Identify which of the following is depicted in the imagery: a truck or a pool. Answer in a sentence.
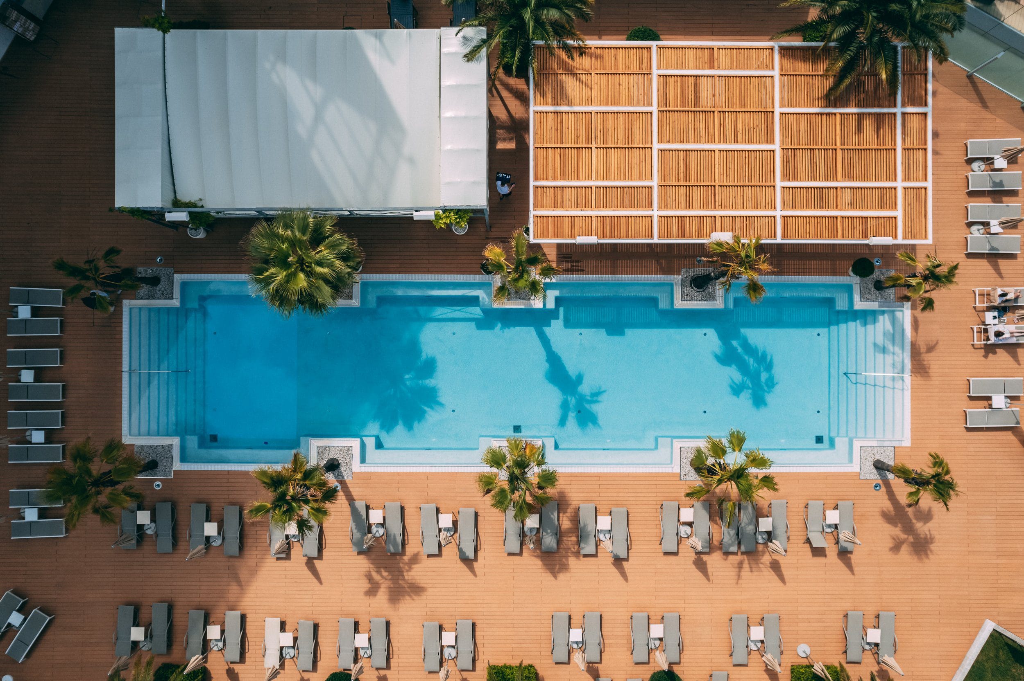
I can see a pool in this picture.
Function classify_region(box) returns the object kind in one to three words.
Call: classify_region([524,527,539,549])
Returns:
umbrella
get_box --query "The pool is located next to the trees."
[130,281,902,465]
